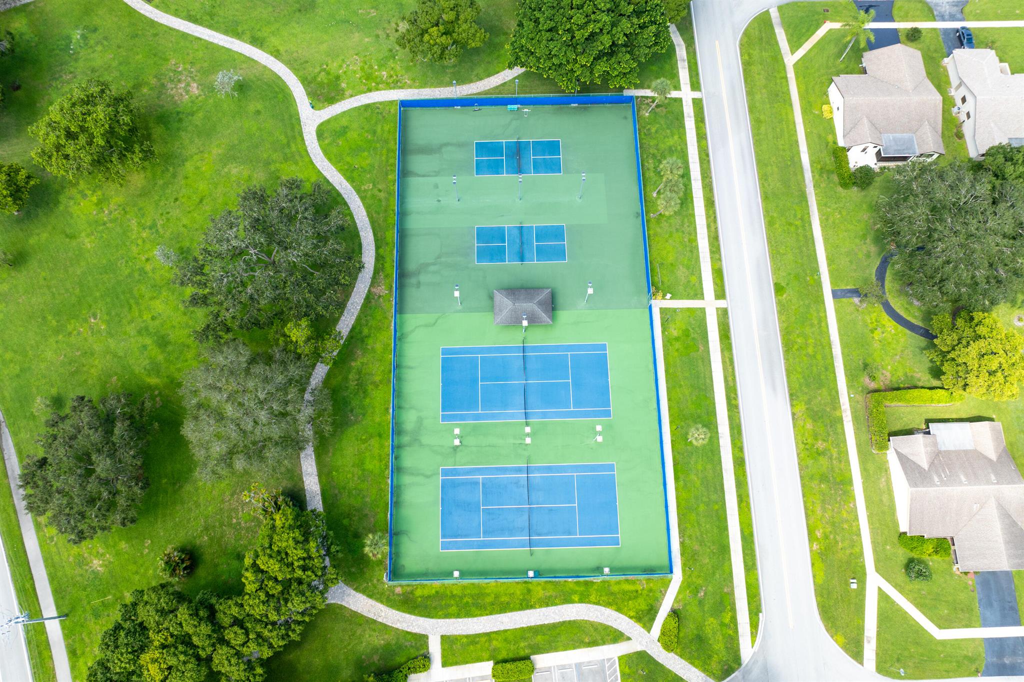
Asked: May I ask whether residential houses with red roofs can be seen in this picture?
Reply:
No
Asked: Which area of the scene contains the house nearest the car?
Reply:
top right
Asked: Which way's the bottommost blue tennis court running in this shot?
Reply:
from side to side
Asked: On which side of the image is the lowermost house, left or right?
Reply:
right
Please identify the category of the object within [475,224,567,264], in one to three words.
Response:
sports court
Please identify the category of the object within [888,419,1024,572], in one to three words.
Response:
house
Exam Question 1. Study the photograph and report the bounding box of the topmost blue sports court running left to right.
[474,139,562,176]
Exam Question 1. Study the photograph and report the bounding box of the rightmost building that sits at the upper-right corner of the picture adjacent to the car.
[946,44,1024,166]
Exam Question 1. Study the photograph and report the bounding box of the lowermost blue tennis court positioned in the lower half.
[440,463,621,552]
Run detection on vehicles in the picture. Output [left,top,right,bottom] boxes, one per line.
[956,26,974,48]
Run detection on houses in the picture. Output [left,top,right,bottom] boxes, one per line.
[829,44,946,170]
[888,419,1024,572]
[946,44,1024,166]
